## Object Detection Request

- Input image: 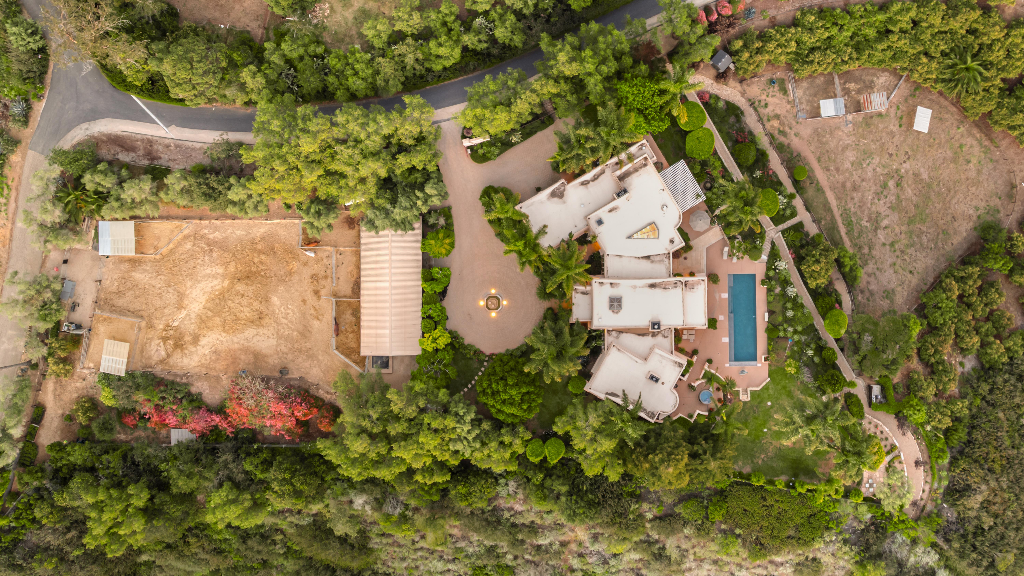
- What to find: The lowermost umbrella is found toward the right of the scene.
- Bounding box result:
[690,210,711,230]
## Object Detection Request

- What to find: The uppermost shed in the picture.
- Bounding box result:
[706,51,730,75]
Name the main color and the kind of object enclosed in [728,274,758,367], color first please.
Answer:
blue swimming pool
